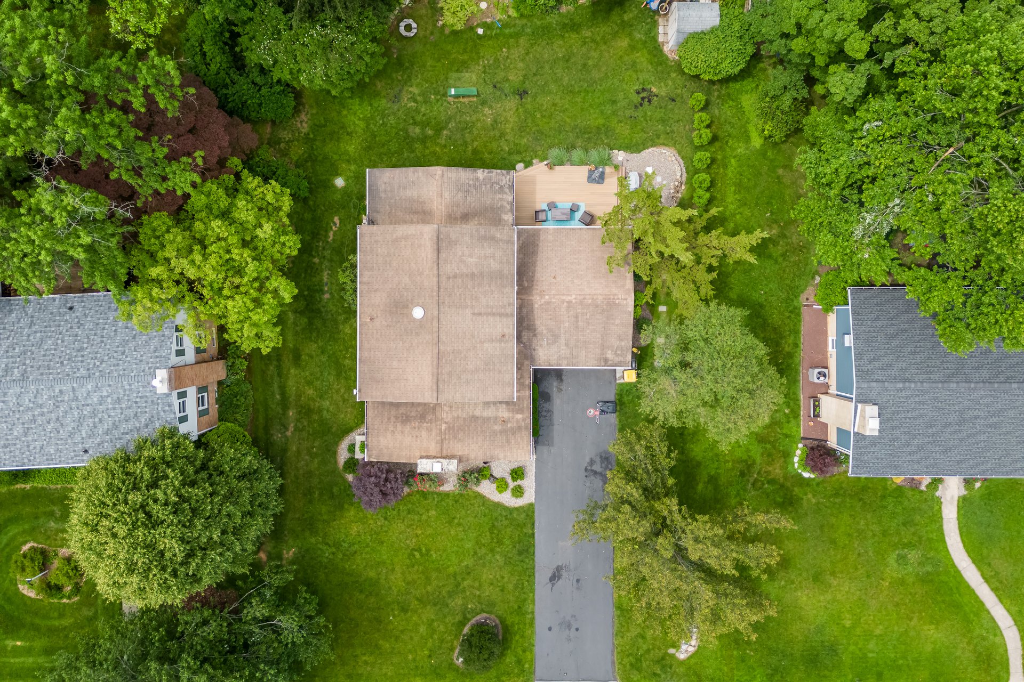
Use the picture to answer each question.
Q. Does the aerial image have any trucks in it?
No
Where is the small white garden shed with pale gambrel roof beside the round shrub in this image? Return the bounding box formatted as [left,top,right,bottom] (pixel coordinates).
[668,6,719,52]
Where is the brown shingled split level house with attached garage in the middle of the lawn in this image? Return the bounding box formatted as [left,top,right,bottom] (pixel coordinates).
[353,164,633,472]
